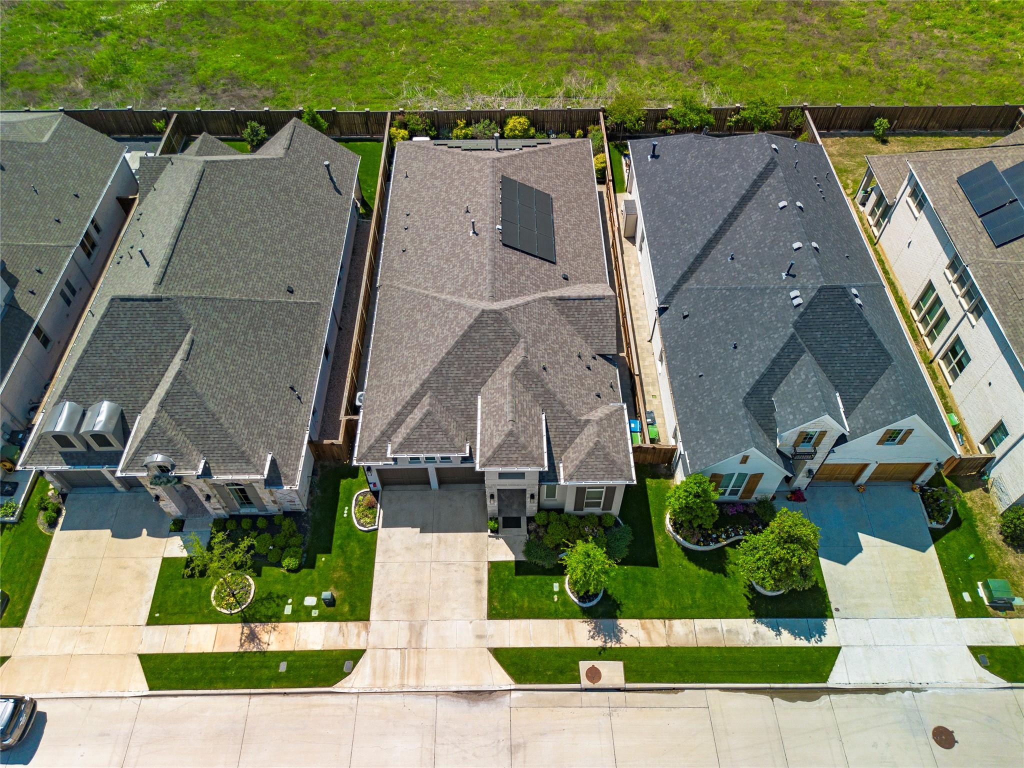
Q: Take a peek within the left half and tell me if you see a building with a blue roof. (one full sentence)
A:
No, within the left half there is no building with a blue roof.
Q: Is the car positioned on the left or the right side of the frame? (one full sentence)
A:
You can find the car on the left side of the picture.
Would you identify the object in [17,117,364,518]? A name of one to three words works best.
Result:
house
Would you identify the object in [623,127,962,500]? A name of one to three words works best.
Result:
house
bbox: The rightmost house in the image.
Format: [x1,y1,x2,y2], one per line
[849,132,1024,511]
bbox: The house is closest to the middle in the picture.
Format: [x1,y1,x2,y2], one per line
[350,135,640,516]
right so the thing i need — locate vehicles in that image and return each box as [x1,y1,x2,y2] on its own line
[0,699,42,756]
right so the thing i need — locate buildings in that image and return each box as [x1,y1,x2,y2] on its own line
[623,127,962,500]
[0,113,134,468]
[849,132,1024,511]
[17,117,364,518]
[350,135,640,516]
